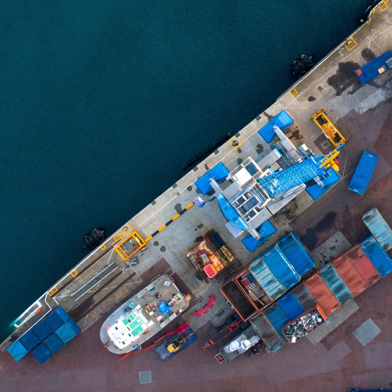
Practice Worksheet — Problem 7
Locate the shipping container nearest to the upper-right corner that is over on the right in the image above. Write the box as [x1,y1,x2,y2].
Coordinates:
[350,148,379,193]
